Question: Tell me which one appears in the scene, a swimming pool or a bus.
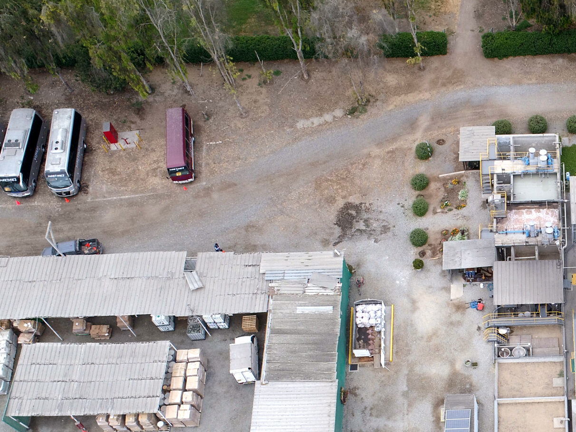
bus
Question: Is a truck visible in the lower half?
Yes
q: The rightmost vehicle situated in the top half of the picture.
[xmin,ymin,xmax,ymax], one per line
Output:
[164,108,198,188]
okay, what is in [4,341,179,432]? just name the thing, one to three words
shed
